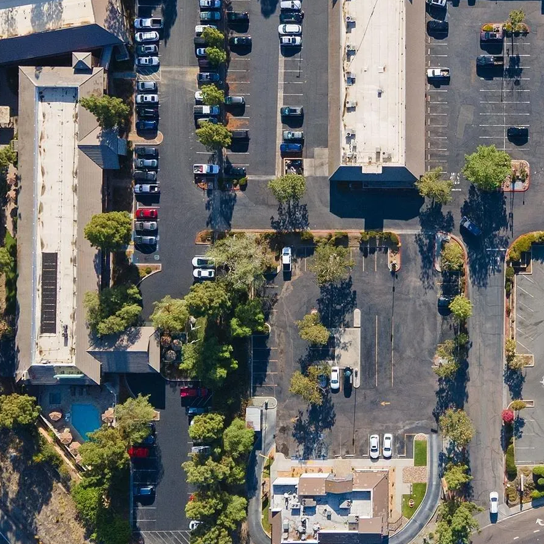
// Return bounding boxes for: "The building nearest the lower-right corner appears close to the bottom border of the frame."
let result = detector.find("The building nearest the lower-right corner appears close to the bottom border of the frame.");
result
[271,468,389,544]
